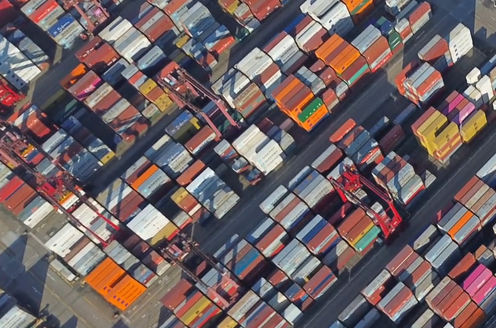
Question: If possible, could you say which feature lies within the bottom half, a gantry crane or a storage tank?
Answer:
gantry crane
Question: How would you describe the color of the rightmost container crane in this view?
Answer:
red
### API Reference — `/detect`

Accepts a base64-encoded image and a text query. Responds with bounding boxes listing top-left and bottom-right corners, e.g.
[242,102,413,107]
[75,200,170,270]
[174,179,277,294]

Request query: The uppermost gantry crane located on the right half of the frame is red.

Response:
[332,160,412,247]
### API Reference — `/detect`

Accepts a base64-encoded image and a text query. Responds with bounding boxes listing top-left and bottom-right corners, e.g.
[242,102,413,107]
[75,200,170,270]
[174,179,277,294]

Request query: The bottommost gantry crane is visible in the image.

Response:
[157,229,252,314]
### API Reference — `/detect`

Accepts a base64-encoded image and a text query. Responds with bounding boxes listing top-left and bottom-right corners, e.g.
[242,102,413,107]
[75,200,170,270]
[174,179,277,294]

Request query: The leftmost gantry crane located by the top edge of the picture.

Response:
[67,0,142,70]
